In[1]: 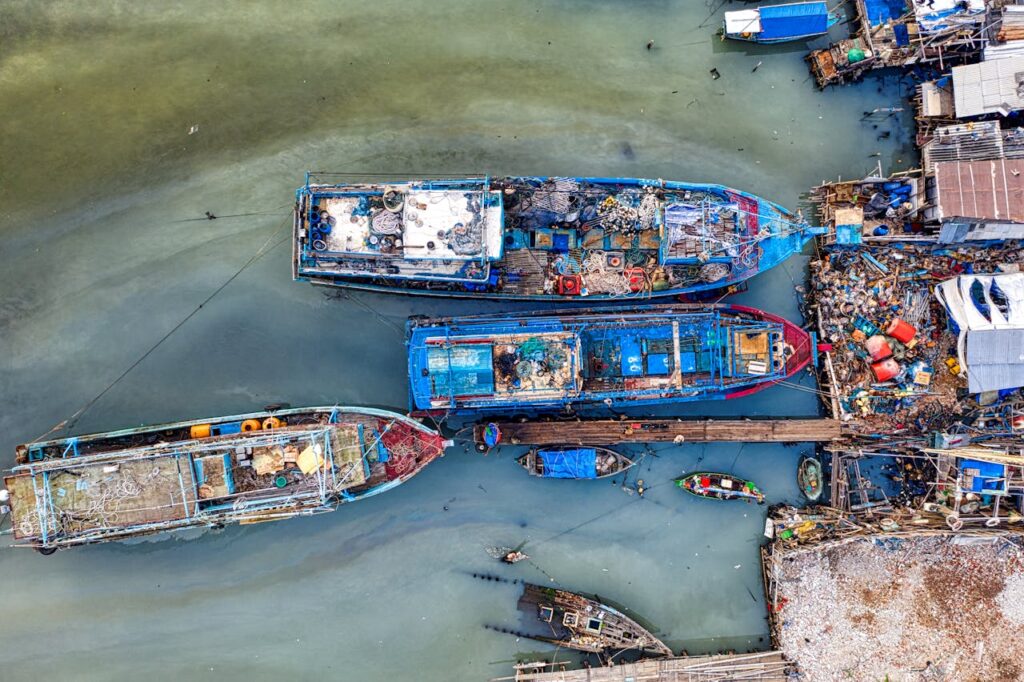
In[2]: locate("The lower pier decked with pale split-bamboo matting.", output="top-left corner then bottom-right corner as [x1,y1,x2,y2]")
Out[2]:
[505,648,784,682]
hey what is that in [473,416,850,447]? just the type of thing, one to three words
pier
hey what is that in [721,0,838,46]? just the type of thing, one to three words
boat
